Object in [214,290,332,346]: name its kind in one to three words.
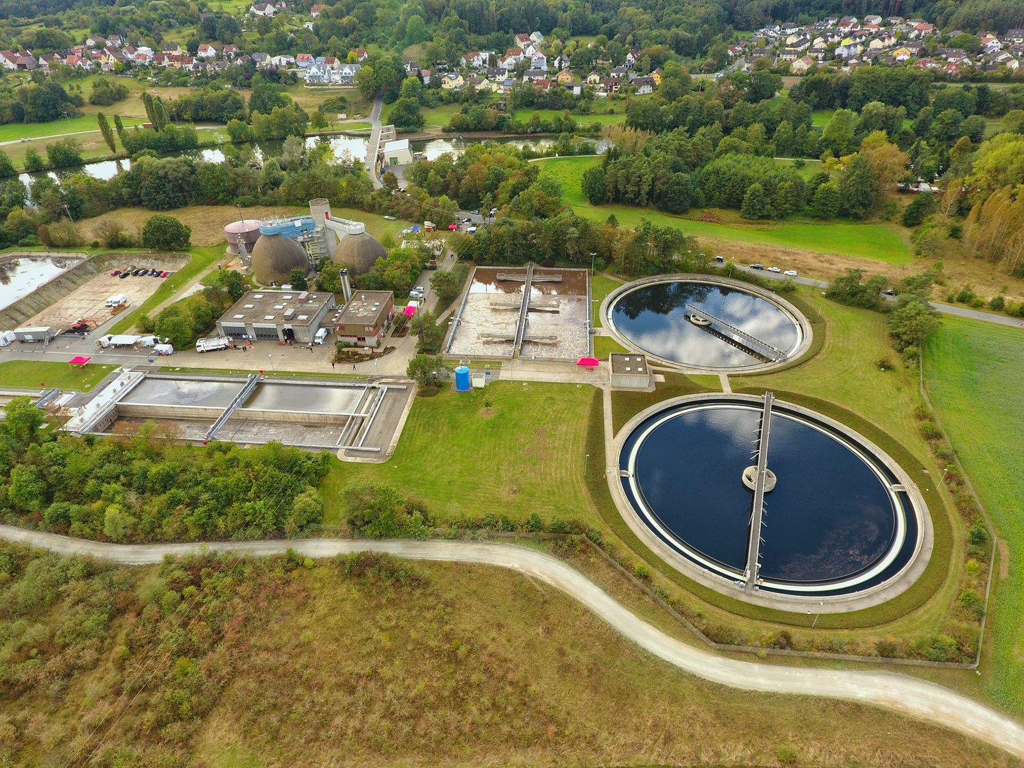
building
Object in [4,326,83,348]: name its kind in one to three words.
trailer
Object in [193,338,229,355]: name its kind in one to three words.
vehicle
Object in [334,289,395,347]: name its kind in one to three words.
building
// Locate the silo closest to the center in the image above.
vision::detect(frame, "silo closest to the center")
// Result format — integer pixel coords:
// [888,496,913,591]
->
[450,363,475,394]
